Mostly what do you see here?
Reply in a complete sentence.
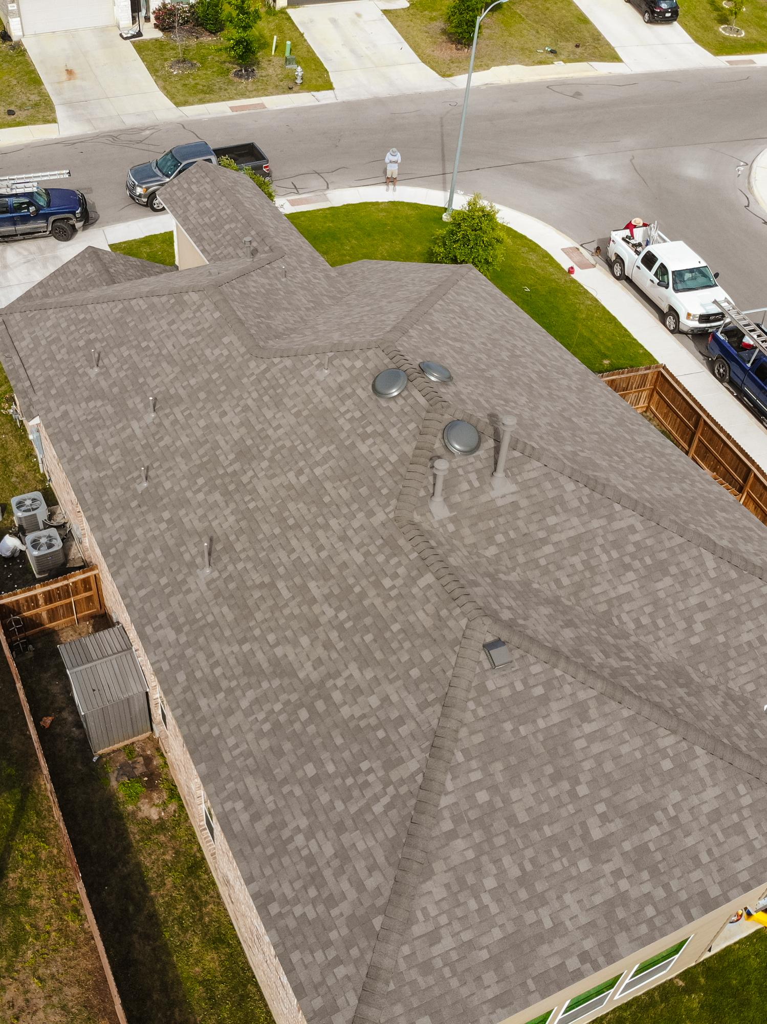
The bulk of the photo consists of buildings.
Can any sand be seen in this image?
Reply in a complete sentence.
No, no sand is visible.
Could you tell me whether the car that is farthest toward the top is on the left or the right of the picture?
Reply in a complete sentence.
You can find the car that is farthest toward the top on the right side of the picture.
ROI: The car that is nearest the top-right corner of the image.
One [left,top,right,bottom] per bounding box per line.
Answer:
[633,0,681,25]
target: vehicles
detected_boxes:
[606,229,743,339]
[118,136,270,210]
[0,171,91,246]
[704,308,767,423]
[633,0,681,25]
